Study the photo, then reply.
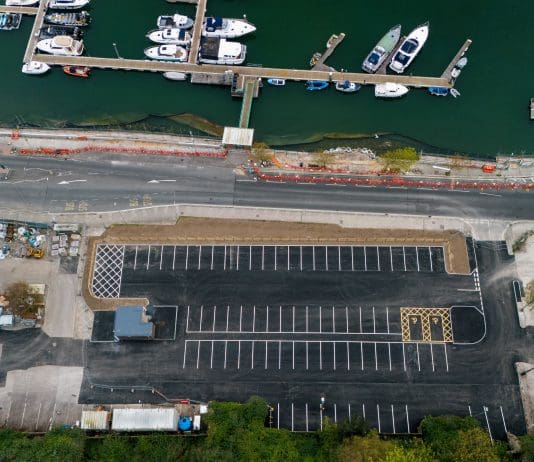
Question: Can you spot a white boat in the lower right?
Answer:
No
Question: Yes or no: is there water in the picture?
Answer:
Yes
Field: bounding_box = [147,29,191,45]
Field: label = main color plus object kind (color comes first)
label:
white boat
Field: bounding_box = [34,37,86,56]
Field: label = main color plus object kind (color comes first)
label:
white boat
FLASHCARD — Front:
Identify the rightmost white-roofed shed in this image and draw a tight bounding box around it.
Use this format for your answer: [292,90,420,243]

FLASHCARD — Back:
[112,407,180,431]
